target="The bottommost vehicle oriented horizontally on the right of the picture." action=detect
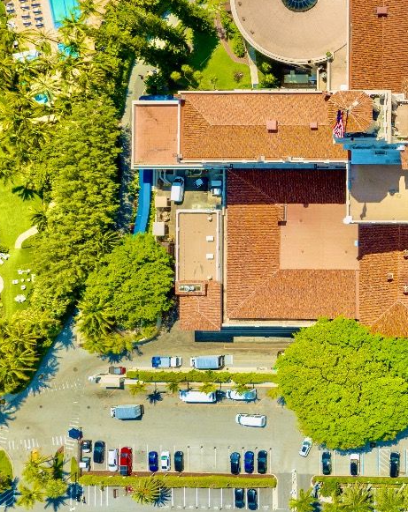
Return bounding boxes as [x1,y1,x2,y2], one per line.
[237,411,270,427]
